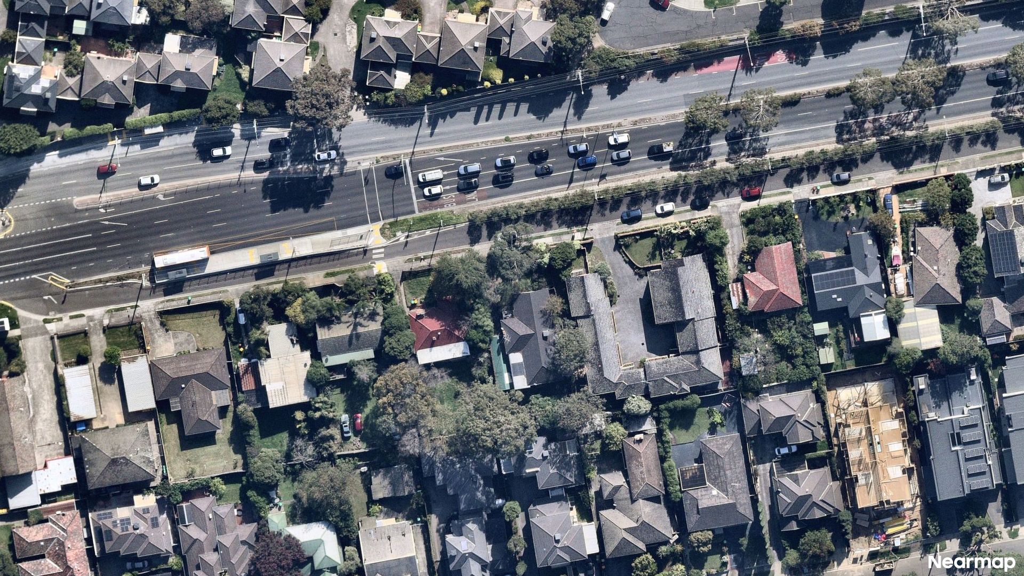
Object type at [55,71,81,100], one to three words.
building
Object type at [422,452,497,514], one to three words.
house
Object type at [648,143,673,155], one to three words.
vehicle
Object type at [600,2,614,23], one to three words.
car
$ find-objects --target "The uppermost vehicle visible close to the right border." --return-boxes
[987,71,1007,83]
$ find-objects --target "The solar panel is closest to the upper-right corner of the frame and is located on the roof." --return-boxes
[990,230,1020,273]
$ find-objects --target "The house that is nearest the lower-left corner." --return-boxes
[12,510,94,576]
